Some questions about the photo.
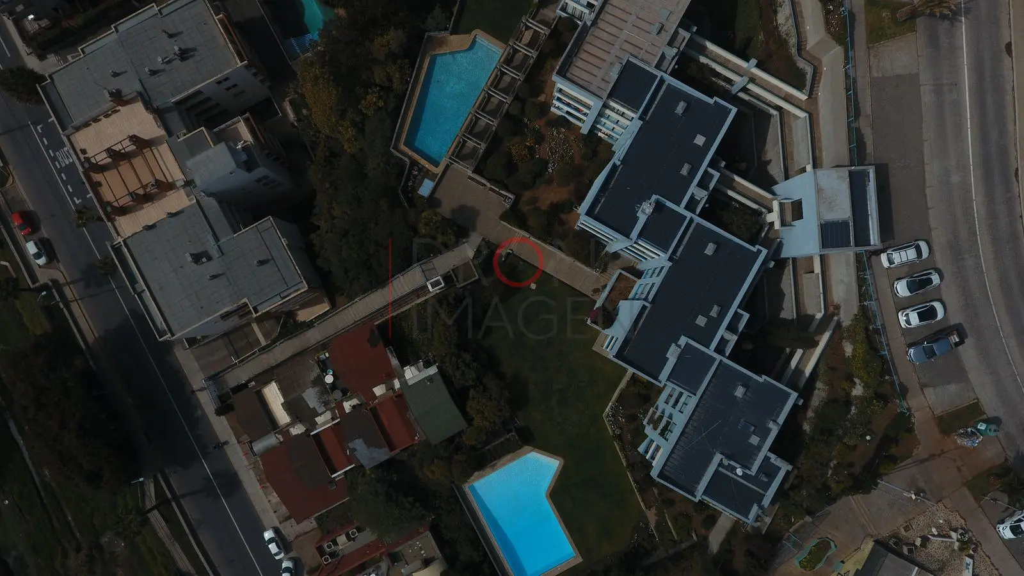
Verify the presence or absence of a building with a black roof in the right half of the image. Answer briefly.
Yes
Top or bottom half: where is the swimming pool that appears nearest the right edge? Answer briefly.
bottom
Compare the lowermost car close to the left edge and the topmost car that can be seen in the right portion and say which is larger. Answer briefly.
the topmost car that can be seen in the right portion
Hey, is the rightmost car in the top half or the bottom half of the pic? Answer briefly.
bottom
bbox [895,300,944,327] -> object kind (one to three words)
car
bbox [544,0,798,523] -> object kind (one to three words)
building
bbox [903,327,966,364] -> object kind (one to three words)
truck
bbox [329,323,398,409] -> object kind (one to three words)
house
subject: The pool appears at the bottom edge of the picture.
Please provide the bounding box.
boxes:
[463,446,582,576]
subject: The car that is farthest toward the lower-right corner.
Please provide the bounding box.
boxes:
[995,504,1024,538]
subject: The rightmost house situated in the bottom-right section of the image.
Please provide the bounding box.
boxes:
[851,537,926,576]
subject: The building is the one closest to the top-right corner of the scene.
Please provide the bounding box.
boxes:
[771,162,882,258]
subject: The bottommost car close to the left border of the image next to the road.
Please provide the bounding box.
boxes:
[24,237,51,266]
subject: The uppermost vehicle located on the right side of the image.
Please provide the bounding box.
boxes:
[877,241,928,268]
